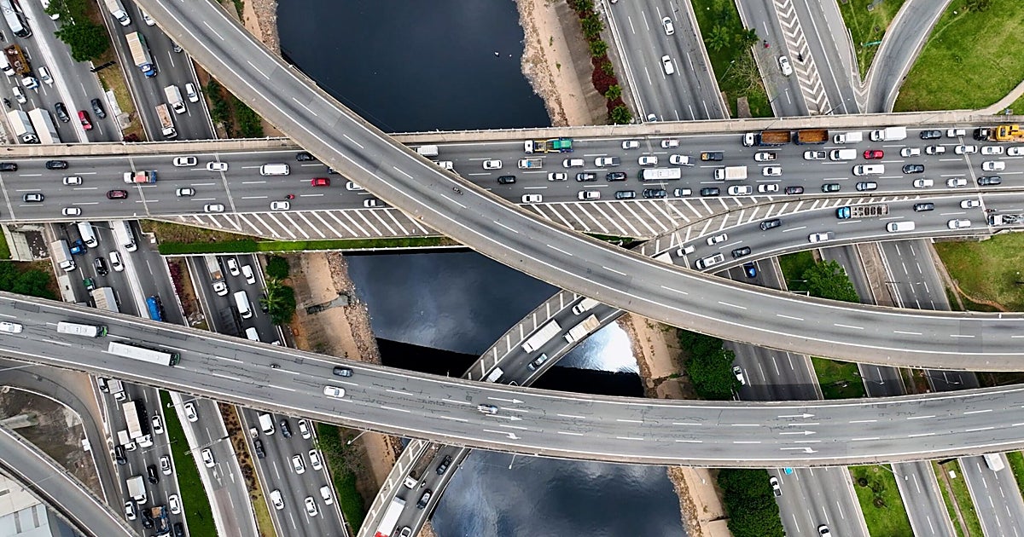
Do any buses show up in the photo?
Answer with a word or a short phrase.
Yes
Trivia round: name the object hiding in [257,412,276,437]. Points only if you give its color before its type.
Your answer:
white vehicle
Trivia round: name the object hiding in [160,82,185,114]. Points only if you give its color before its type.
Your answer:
white truck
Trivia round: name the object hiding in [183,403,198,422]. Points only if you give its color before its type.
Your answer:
white car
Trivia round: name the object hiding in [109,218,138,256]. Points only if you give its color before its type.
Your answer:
white bus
